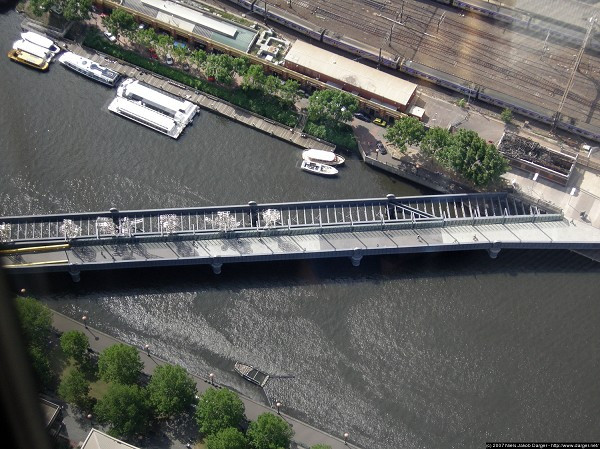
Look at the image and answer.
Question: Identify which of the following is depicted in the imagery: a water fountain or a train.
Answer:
train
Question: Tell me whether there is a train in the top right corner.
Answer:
Yes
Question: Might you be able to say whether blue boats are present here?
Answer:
No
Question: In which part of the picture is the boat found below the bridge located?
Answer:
bottom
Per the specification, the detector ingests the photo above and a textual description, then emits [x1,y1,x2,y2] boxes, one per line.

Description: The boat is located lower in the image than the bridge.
[233,365,271,387]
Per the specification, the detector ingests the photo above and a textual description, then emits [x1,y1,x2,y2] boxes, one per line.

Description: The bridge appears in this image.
[0,191,600,285]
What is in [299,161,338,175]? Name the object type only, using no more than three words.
boat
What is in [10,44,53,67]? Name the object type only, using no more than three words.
boat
